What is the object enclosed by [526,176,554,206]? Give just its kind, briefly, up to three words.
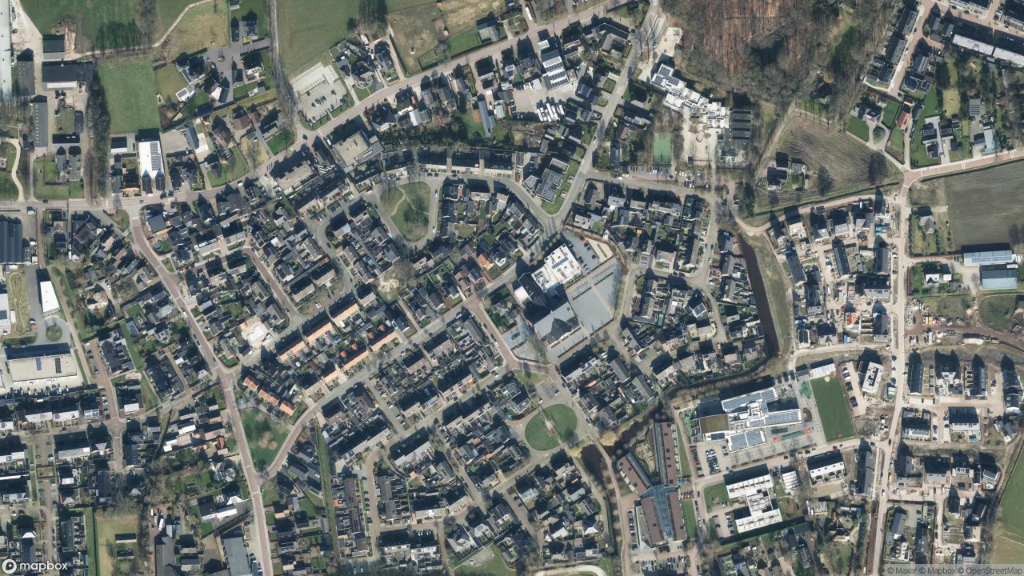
building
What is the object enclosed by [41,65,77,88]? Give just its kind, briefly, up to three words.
barn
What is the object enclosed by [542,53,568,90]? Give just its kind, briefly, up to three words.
building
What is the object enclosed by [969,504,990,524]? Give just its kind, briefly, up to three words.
house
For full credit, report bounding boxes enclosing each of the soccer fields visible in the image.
[811,376,854,441]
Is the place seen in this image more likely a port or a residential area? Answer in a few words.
residential area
